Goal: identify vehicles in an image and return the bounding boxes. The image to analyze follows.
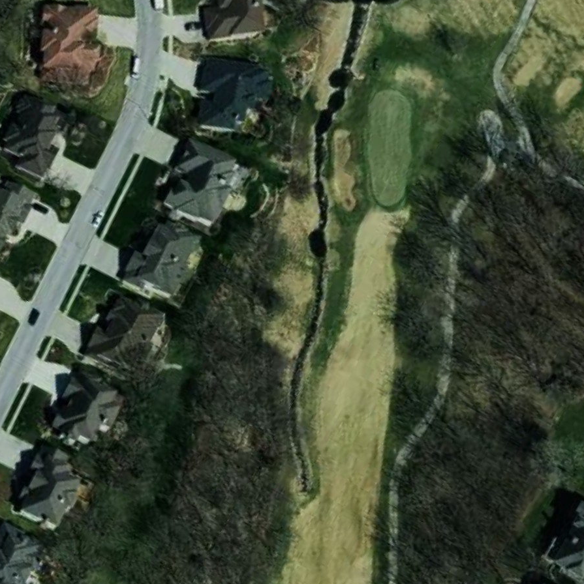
[29,309,40,325]
[154,0,162,8]
[92,210,103,225]
[38,204,49,214]
[132,59,140,74]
